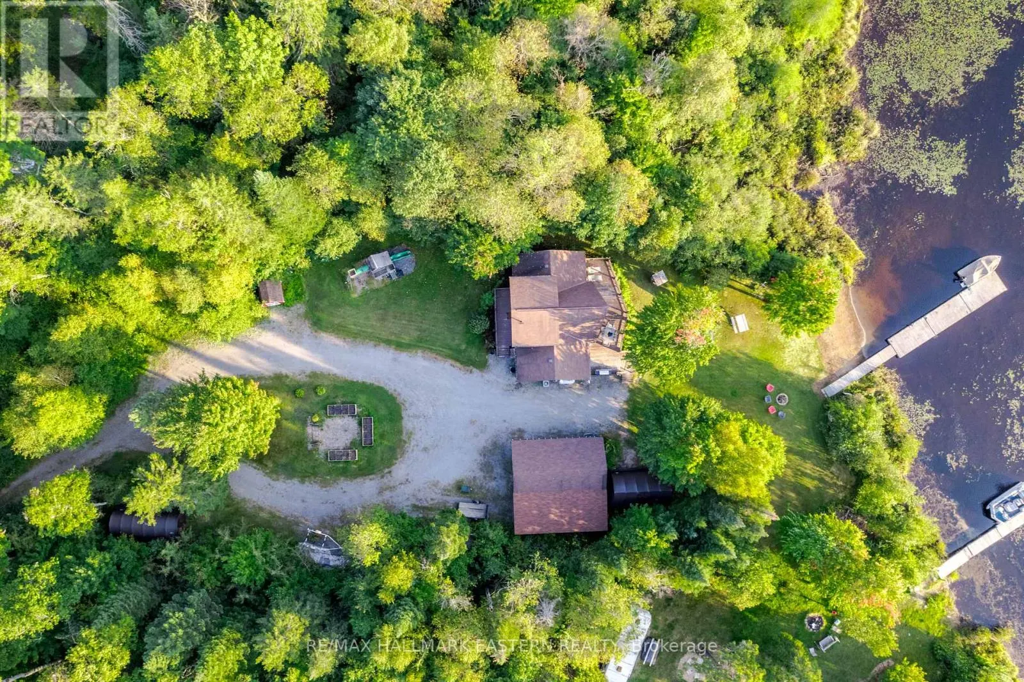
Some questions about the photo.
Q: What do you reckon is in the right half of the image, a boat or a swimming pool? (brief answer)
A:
boat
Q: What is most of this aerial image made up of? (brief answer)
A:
trees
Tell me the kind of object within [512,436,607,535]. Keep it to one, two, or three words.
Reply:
building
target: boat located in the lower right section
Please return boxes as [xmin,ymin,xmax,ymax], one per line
[994,481,1024,519]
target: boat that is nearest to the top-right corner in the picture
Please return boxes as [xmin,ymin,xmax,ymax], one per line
[956,257,1004,287]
